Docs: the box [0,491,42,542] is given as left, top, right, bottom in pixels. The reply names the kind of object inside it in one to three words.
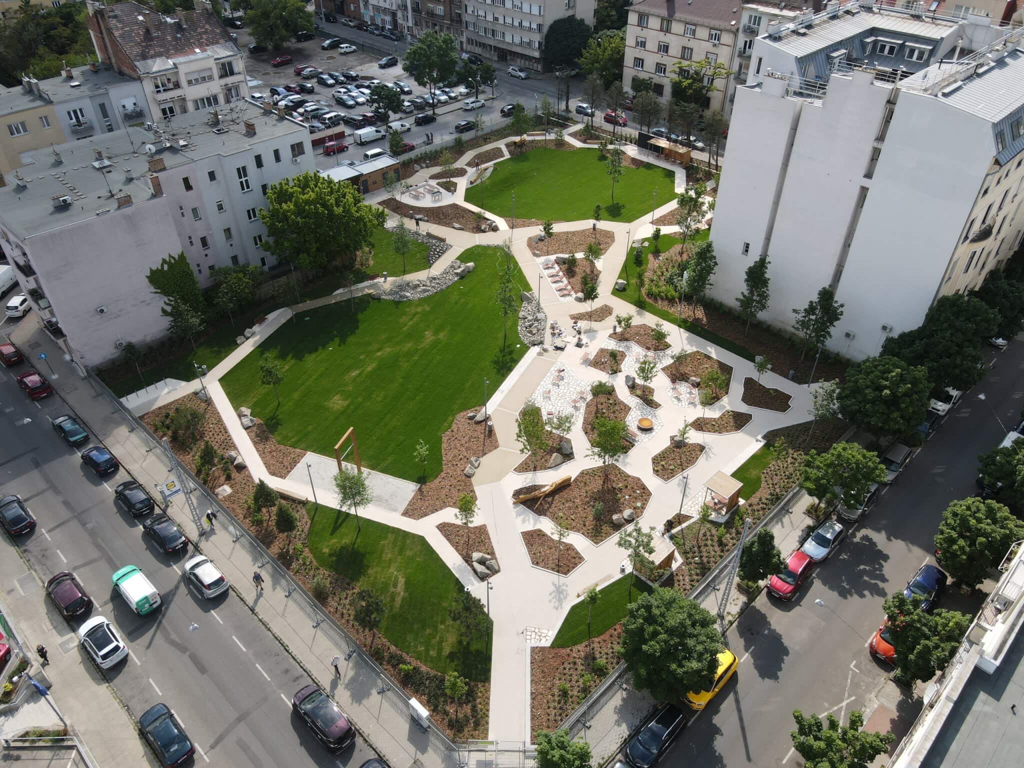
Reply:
car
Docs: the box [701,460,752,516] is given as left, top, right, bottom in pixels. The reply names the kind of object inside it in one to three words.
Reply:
building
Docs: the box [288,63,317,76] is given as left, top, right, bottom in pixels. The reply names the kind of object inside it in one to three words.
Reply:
vehicle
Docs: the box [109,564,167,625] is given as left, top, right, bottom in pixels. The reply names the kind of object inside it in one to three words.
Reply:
van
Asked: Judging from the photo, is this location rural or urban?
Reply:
urban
